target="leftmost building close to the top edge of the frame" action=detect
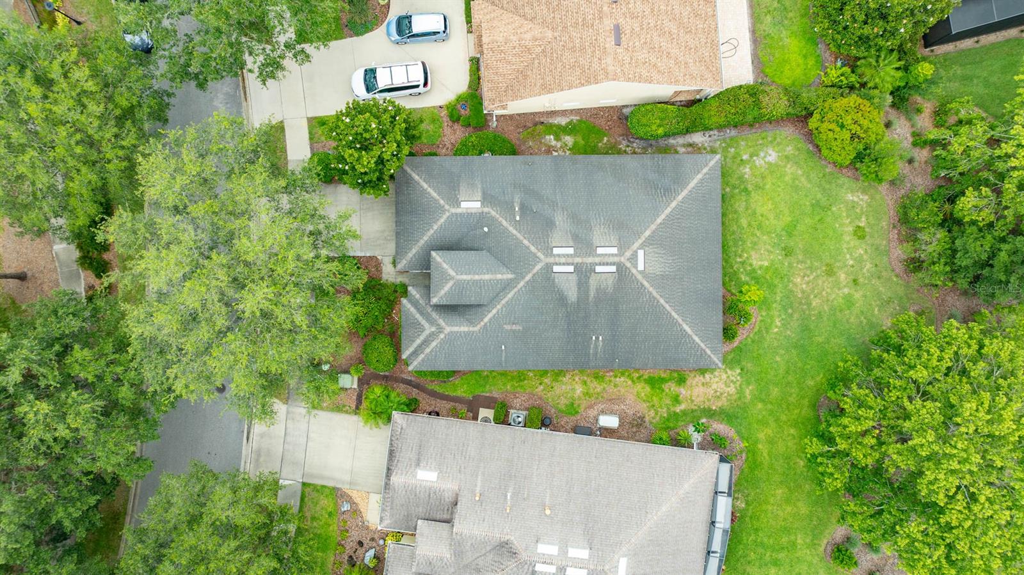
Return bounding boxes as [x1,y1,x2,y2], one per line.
[463,0,725,133]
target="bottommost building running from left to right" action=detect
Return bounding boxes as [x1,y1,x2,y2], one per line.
[378,411,719,575]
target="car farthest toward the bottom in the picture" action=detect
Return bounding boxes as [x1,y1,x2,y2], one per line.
[351,61,432,98]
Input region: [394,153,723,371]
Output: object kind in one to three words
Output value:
house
